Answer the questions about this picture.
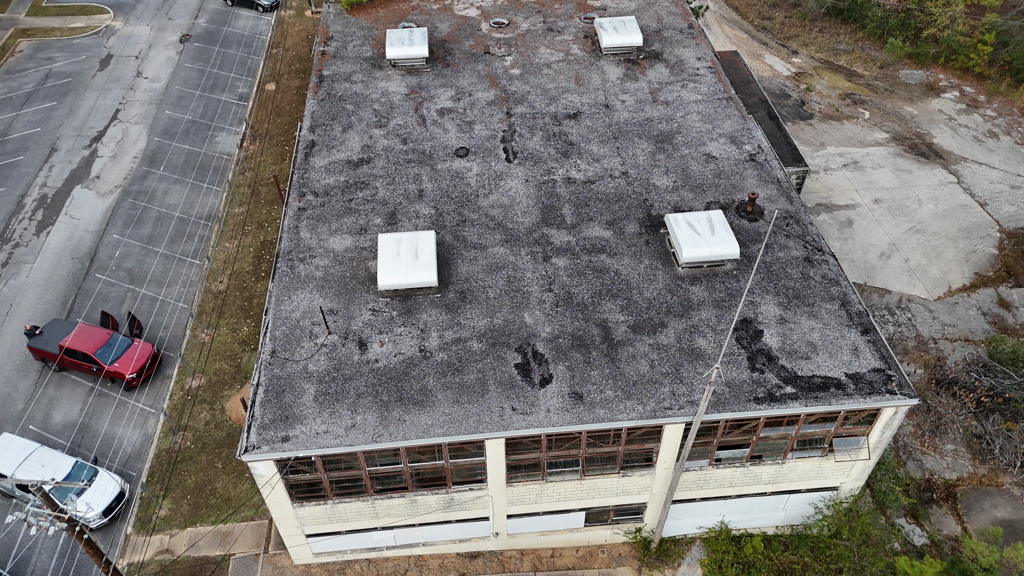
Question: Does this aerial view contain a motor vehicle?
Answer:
Yes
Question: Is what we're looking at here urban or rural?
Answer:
urban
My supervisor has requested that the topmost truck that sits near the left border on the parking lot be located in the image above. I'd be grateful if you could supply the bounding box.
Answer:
[27,309,168,392]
